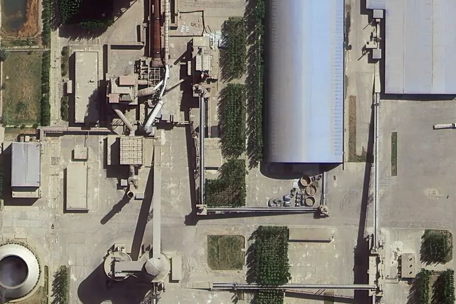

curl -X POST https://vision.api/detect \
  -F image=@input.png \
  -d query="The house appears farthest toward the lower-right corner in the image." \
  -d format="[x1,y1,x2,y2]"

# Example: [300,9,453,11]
[402,254,416,278]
